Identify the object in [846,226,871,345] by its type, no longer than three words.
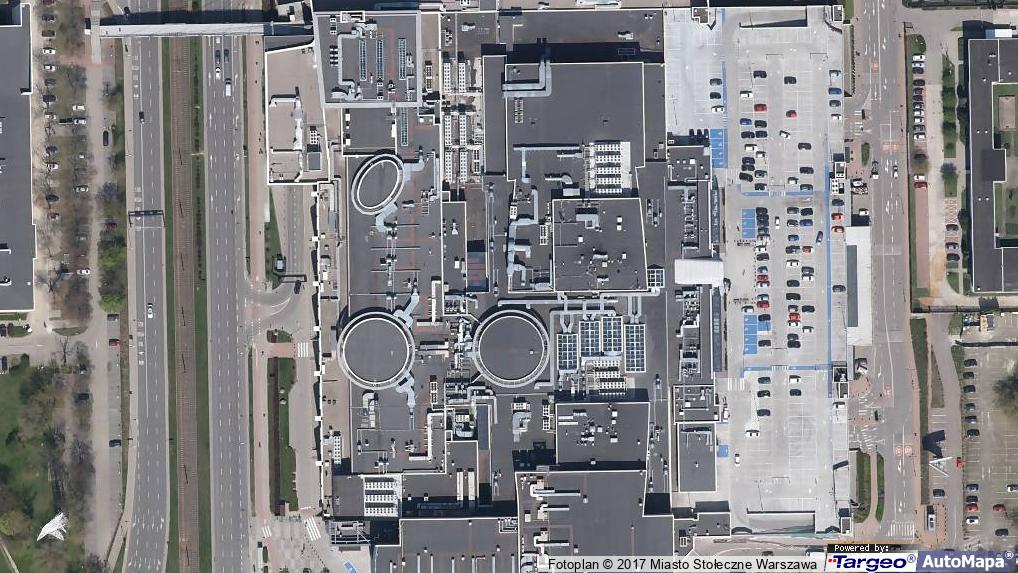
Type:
building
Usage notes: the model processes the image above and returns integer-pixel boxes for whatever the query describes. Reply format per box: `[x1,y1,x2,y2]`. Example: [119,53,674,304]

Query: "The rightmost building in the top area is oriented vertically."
[967,29,1018,292]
